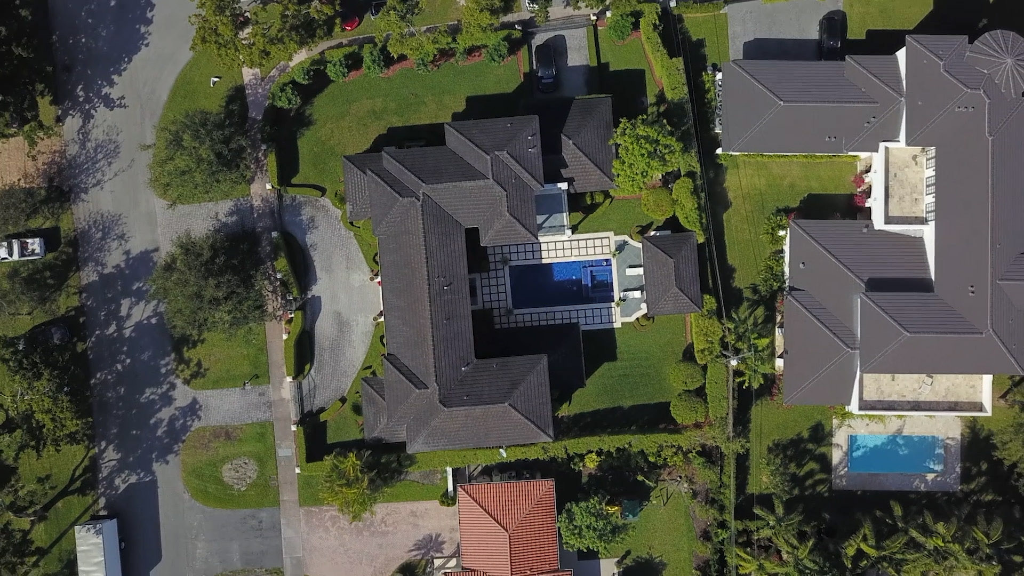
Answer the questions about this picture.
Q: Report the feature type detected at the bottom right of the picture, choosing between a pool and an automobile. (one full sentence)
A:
There is a pool at the bottom right of the picture.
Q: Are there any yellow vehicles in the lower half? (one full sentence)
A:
No, I can find no yellow vehicle in the lower half.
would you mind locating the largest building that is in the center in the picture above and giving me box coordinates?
[342,96,616,453]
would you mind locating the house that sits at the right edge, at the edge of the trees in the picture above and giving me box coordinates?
[721,28,1024,416]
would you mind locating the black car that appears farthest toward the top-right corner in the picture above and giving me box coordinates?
[817,11,846,61]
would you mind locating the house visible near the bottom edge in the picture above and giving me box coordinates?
[433,476,573,576]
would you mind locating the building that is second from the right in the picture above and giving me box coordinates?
[640,231,702,317]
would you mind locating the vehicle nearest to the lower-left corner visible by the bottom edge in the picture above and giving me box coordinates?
[75,512,123,576]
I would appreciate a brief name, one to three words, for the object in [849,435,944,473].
swimming pool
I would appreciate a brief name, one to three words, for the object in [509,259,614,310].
swimming pool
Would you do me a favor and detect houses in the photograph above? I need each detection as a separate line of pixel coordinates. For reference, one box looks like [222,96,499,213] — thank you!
[433,476,573,576]
[342,96,616,453]
[721,28,1024,416]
